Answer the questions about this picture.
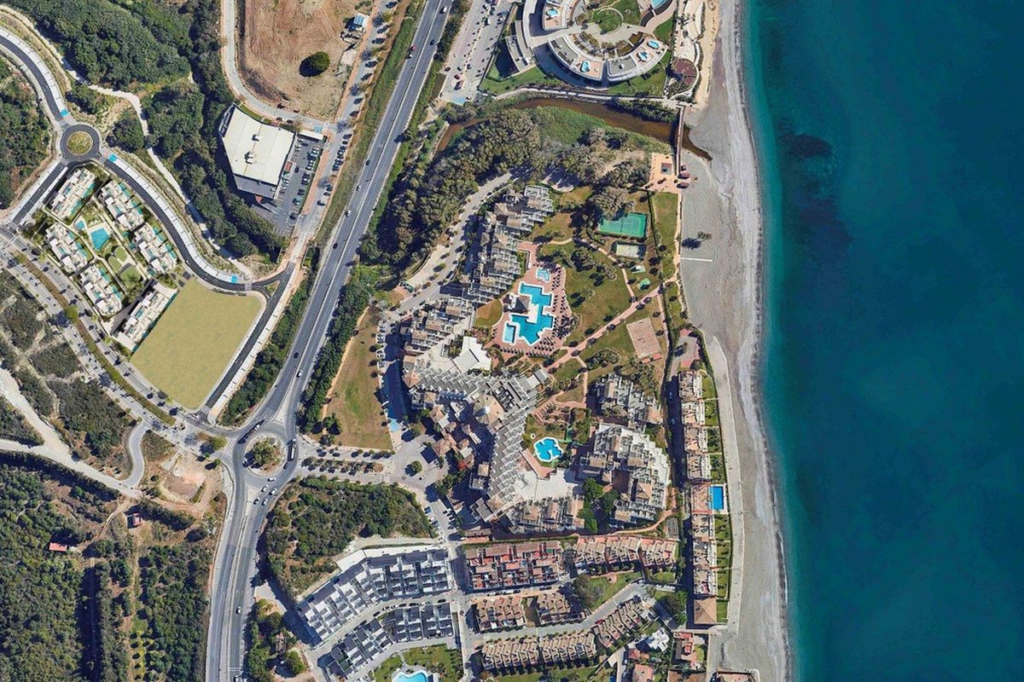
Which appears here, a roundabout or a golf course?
roundabout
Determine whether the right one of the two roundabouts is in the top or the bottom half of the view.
bottom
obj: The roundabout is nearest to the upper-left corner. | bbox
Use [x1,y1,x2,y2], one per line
[57,119,103,165]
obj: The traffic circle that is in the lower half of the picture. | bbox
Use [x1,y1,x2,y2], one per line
[230,419,299,489]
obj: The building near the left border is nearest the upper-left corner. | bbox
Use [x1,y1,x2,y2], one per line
[50,167,101,227]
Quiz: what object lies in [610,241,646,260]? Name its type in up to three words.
sports court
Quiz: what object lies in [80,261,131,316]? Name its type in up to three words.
building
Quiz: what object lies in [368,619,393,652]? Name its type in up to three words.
house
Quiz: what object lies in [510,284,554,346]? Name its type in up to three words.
swimming pool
